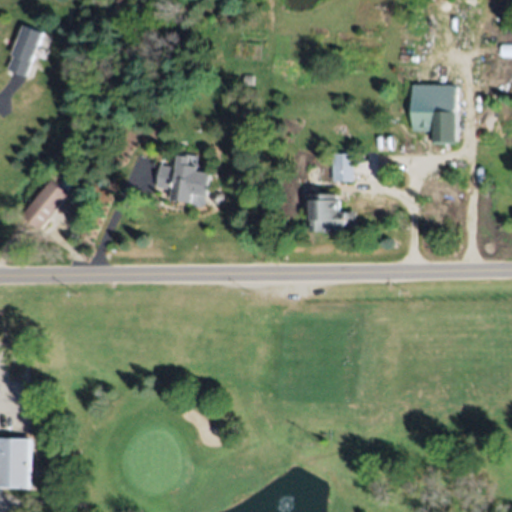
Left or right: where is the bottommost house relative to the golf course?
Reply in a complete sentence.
Relative to the golf course, the bottommost house is on the left.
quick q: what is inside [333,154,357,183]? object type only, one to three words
shed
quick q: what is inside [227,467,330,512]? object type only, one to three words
pond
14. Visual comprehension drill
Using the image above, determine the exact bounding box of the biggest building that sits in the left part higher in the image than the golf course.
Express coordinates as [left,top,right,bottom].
[157,154,210,207]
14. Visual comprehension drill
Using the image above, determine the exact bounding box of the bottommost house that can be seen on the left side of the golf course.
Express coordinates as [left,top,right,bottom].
[0,438,32,490]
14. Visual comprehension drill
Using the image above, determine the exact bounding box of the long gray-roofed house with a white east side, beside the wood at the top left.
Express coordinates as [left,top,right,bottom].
[8,25,51,78]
